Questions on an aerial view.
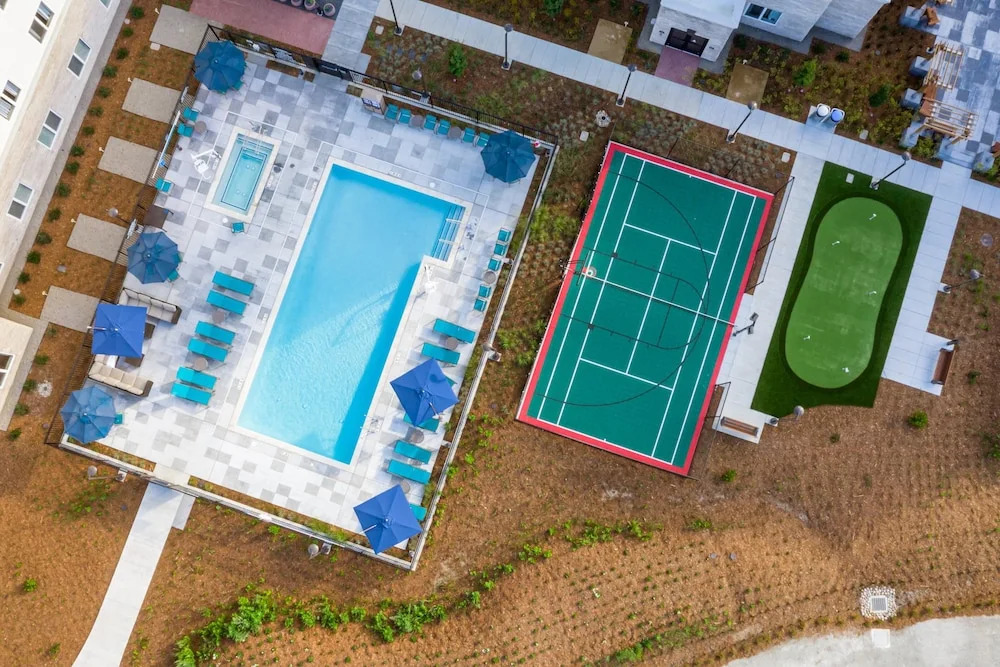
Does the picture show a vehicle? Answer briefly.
No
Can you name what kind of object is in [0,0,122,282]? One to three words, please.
building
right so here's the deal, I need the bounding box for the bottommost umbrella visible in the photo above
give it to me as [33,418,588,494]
[354,483,423,555]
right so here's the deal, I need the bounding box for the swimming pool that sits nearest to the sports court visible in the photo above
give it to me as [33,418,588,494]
[225,156,476,478]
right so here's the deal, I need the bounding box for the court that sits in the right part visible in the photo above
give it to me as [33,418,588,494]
[518,142,774,478]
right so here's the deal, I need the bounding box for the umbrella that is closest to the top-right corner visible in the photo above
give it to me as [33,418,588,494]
[479,129,536,184]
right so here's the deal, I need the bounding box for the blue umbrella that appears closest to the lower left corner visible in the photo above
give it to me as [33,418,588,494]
[60,385,118,444]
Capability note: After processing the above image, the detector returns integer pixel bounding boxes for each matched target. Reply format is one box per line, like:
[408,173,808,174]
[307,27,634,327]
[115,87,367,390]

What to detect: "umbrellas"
[479,129,536,184]
[354,483,423,555]
[85,306,148,357]
[125,229,182,285]
[60,385,118,444]
[390,357,459,431]
[193,40,246,92]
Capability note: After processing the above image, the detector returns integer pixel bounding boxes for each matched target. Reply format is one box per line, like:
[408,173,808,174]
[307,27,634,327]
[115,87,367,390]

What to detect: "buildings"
[650,0,892,62]
[0,0,122,282]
